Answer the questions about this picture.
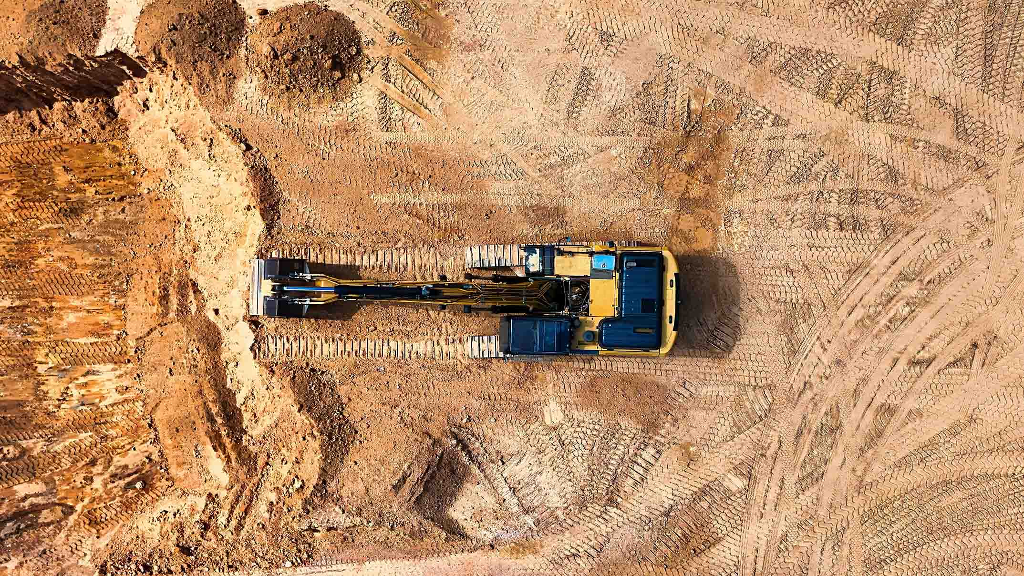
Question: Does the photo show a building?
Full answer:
No, the photo shows no building.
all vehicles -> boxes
[245,236,682,363]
